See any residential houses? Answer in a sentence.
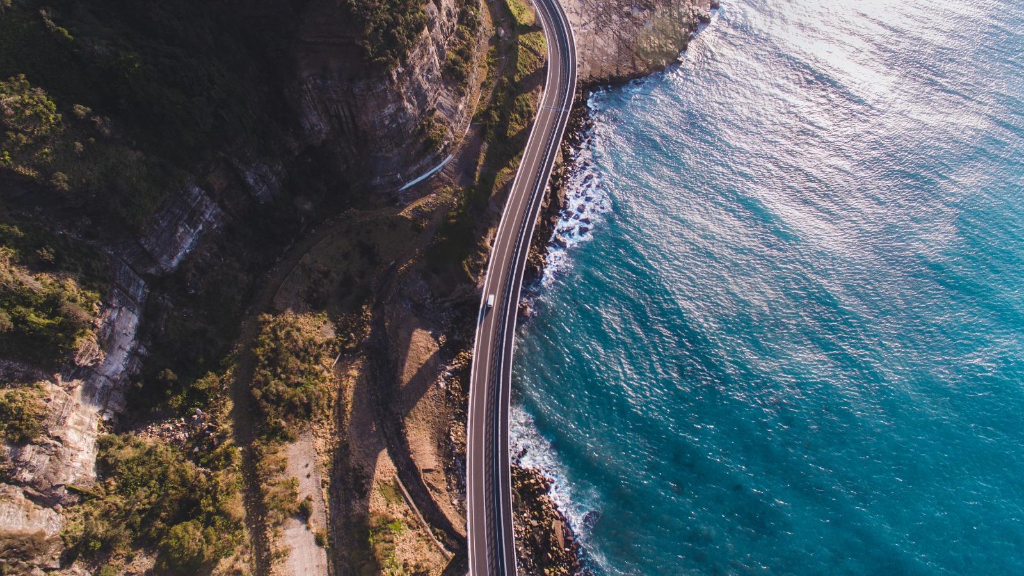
No, the frame has no residential house in it.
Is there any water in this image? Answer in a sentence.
Yes, some water is visible.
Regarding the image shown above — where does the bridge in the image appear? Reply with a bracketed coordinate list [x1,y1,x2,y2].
[467,0,578,576]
